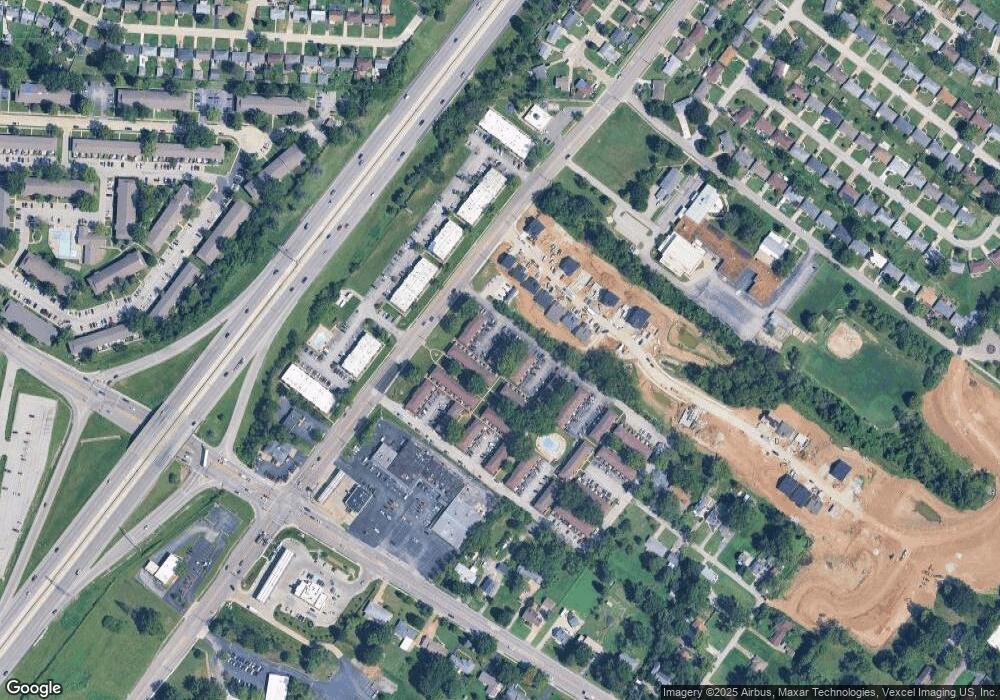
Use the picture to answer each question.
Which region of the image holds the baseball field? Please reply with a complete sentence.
Look in the right portion of the view to spot the baseball field.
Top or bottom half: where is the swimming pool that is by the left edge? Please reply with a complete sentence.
Seen from above, the swimming pool that is by the left edge lies in the top half of the view.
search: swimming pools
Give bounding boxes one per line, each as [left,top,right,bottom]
[536,433,566,462]
[49,227,79,260]
[308,324,333,352]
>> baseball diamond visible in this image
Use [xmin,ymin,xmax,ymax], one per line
[805,309,925,416]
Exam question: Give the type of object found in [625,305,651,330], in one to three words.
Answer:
house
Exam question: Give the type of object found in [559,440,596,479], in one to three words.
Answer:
building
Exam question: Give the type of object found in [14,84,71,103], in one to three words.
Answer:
building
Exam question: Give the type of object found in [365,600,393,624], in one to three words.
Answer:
house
